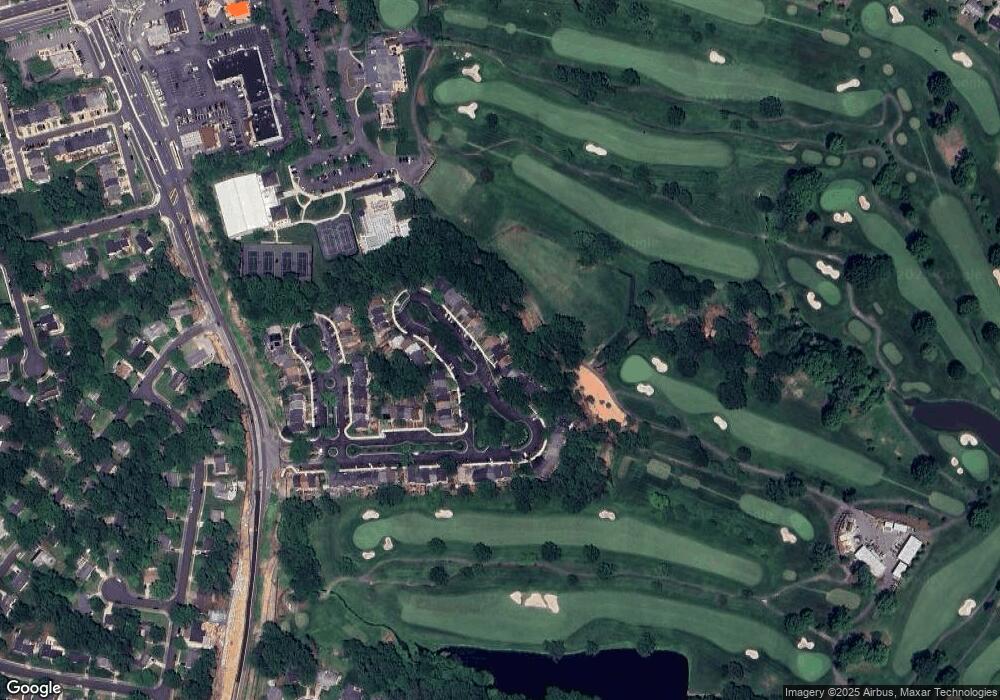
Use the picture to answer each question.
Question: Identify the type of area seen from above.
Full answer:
What you see here is a golf course.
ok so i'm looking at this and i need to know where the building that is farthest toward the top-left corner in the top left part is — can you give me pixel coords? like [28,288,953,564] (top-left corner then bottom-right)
[49,51,80,69]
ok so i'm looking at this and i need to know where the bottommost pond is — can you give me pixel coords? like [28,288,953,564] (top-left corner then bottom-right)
[434,644,688,700]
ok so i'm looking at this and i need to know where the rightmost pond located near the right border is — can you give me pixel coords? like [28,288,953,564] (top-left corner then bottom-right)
[905,398,1000,456]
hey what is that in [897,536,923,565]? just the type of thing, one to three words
shed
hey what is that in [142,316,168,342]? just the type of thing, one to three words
house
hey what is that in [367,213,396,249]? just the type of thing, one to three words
swimming pool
